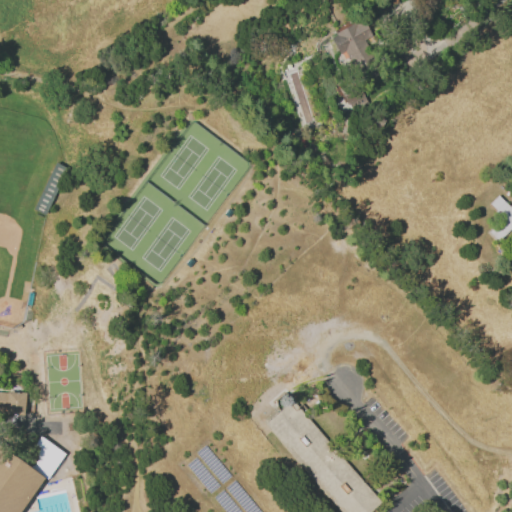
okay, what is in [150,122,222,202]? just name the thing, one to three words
tennis court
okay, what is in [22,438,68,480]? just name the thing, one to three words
building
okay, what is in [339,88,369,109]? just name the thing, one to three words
house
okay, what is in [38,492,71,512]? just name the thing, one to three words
swimming pool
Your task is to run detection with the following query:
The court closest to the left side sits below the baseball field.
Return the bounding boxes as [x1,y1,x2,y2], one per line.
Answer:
[45,350,85,414]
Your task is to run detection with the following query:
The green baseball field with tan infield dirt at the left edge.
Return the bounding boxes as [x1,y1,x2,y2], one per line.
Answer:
[0,109,63,328]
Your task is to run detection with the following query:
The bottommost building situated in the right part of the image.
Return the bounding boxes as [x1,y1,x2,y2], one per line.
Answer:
[271,404,382,512]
